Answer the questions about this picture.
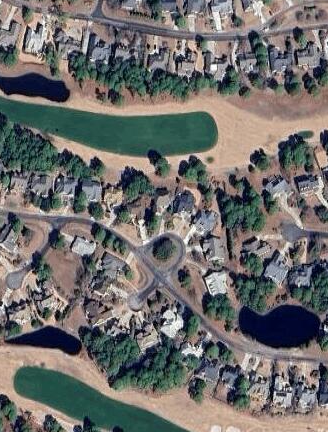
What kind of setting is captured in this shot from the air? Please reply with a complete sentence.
The picture captures a residential area.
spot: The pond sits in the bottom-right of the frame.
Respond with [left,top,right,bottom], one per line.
[239,304,320,348]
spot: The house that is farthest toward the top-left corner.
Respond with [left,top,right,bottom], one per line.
[0,18,21,48]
